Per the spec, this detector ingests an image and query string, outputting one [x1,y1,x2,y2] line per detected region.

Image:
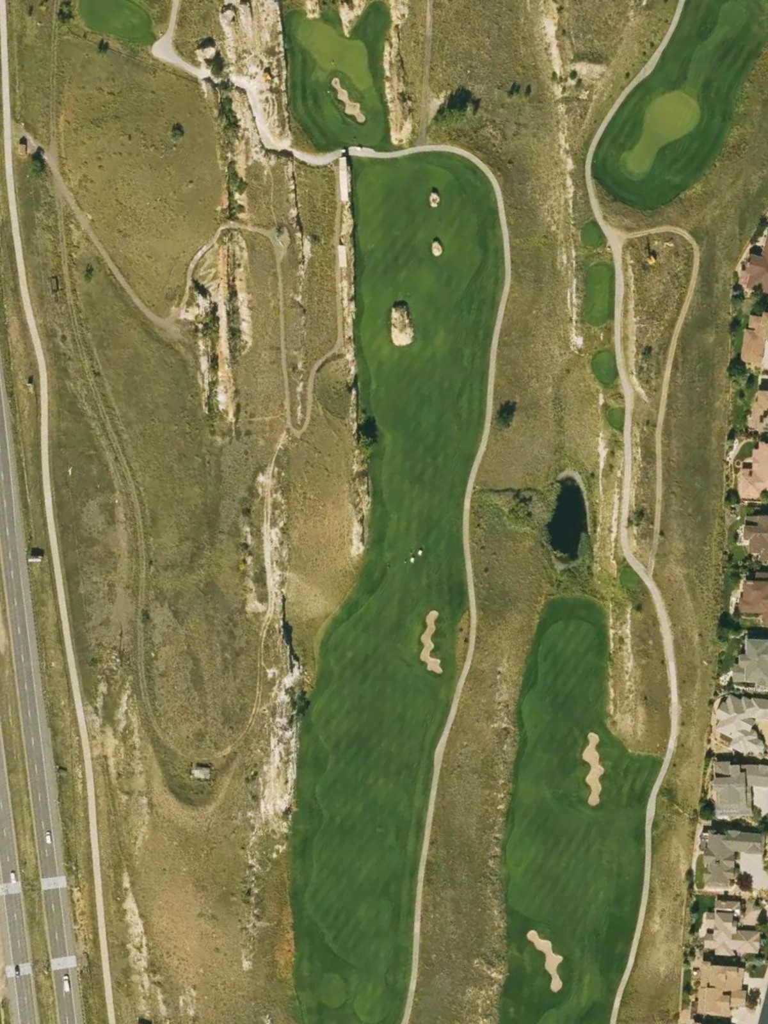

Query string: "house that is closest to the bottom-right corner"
[697,960,747,1018]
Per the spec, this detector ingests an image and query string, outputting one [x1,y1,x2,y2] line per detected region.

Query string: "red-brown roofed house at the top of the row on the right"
[736,239,768,290]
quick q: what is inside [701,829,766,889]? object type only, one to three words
house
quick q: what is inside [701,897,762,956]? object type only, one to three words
house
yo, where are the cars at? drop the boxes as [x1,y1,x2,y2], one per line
[63,976,69,991]
[15,966,20,977]
[45,832,51,843]
[10,872,16,884]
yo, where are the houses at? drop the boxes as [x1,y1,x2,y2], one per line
[736,239,768,290]
[712,693,768,751]
[701,829,766,889]
[697,960,747,1018]
[739,571,768,624]
[735,639,768,689]
[714,762,768,818]
[746,377,768,430]
[738,444,768,498]
[701,897,762,956]
[744,514,768,558]
[741,311,768,364]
